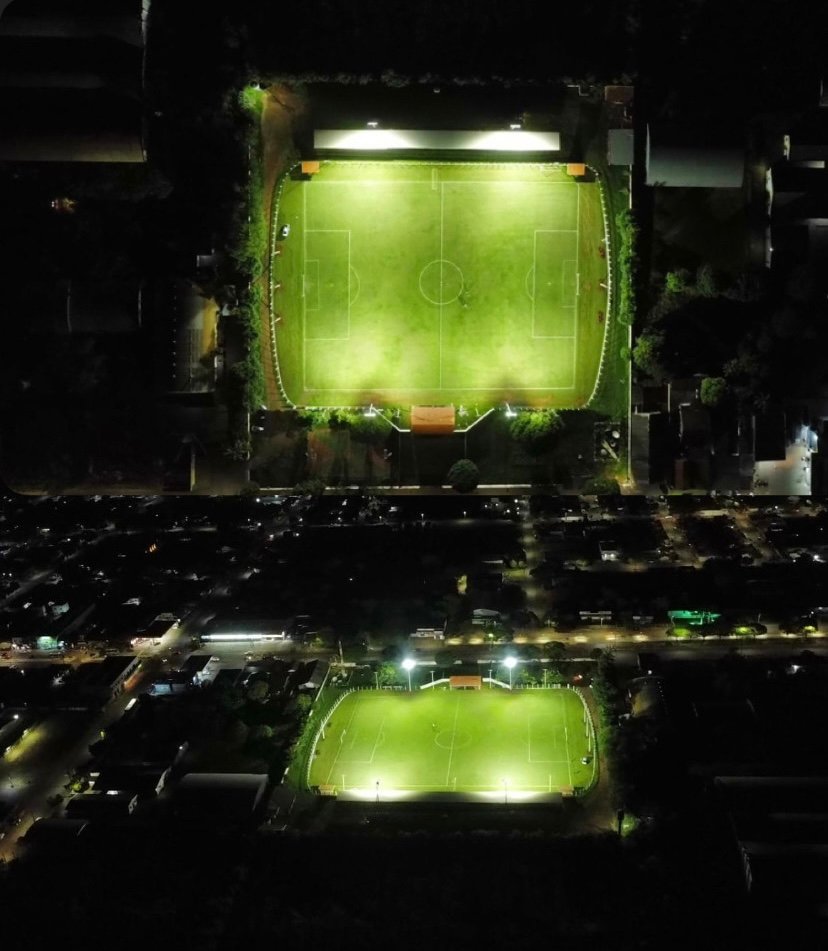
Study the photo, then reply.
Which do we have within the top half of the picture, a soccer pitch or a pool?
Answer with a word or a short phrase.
soccer pitch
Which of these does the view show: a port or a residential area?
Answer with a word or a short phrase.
residential area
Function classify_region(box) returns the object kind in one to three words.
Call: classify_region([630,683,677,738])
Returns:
shed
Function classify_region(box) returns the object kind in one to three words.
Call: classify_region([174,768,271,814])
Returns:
barn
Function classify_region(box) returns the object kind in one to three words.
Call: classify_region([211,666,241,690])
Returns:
house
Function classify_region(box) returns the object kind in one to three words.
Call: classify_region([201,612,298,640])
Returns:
building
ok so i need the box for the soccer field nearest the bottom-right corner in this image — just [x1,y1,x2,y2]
[308,690,595,795]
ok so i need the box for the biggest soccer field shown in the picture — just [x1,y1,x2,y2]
[271,163,609,408]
